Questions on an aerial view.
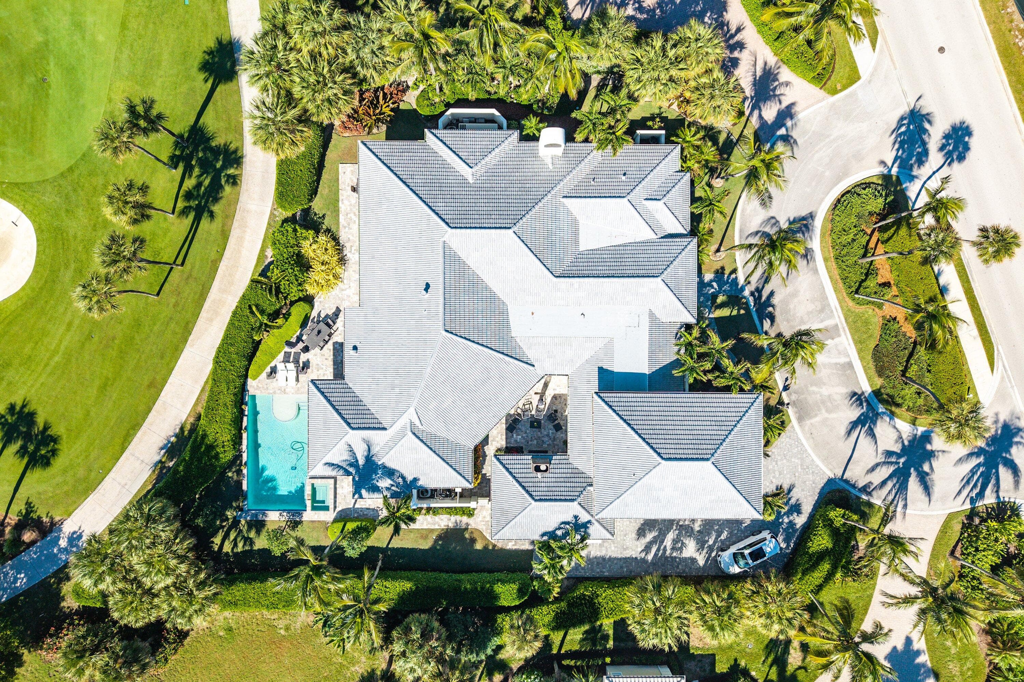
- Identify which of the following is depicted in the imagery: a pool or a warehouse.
pool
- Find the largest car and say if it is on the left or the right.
right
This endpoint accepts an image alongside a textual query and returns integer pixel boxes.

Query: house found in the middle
[307,127,764,541]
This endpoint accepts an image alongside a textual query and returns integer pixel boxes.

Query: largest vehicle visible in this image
[718,529,779,574]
